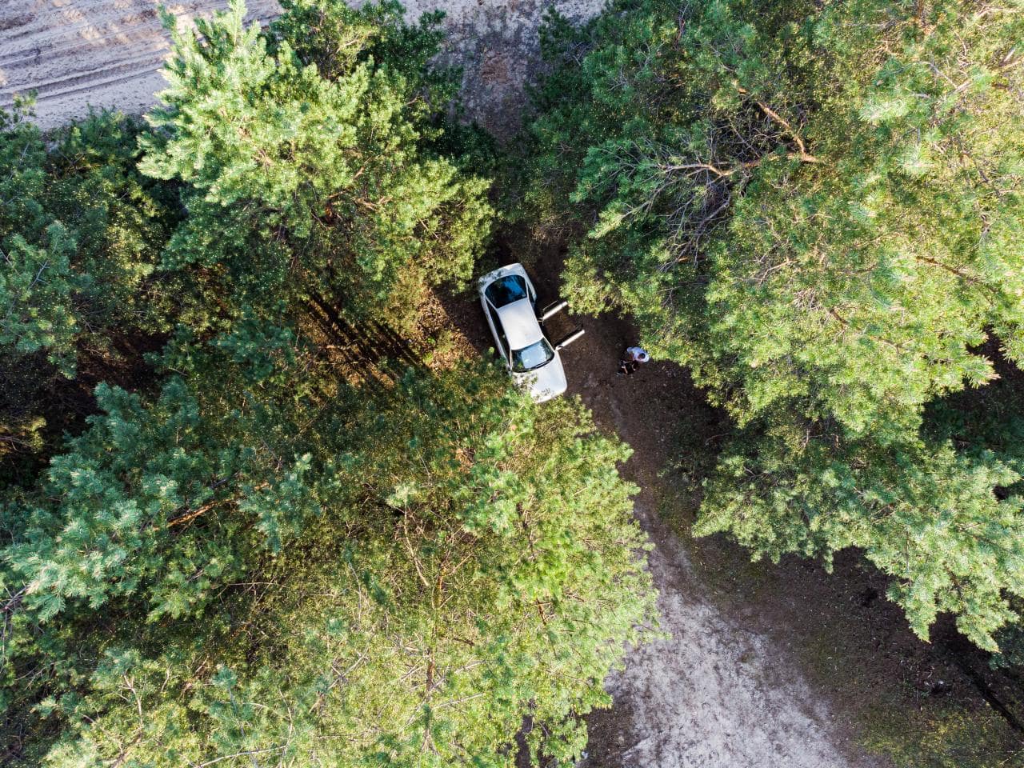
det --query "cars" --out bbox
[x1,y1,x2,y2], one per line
[478,265,583,403]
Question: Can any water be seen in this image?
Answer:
No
